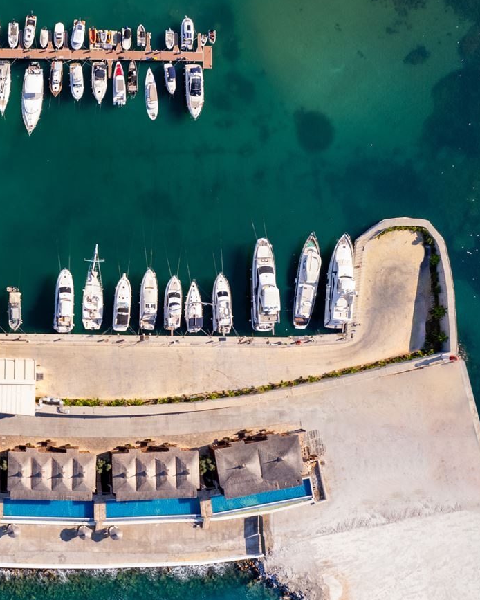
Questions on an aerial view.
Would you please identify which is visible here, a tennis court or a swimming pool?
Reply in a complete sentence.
It is a swimming pool that can be seen here.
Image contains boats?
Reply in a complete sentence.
Yes, a boat appears in the view.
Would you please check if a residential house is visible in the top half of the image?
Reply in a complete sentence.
No, I can find no residential house in the top half of the image.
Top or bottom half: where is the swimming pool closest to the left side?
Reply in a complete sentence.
The swimming pool closest to the left side sits in the bottom half of the picture.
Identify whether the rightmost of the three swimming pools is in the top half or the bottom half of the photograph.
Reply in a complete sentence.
The bottom half of the photo is where the rightmost of the three swimming pools is.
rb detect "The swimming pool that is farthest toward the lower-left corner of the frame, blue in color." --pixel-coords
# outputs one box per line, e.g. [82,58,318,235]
[2,493,94,526]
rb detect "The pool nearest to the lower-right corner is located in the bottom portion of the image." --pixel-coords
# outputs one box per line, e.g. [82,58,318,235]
[211,476,314,521]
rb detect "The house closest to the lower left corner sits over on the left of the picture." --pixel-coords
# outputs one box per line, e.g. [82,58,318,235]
[9,448,96,501]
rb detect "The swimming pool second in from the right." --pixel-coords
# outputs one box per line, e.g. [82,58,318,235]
[105,492,202,526]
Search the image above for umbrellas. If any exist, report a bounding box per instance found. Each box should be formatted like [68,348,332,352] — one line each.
[79,525,92,539]
[6,522,21,536]
[109,525,123,539]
